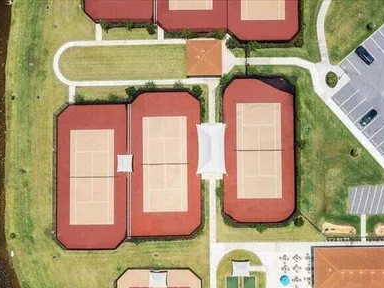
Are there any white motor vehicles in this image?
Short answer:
No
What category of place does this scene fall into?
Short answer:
sports ground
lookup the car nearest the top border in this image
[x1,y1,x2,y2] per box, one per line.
[357,46,373,64]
